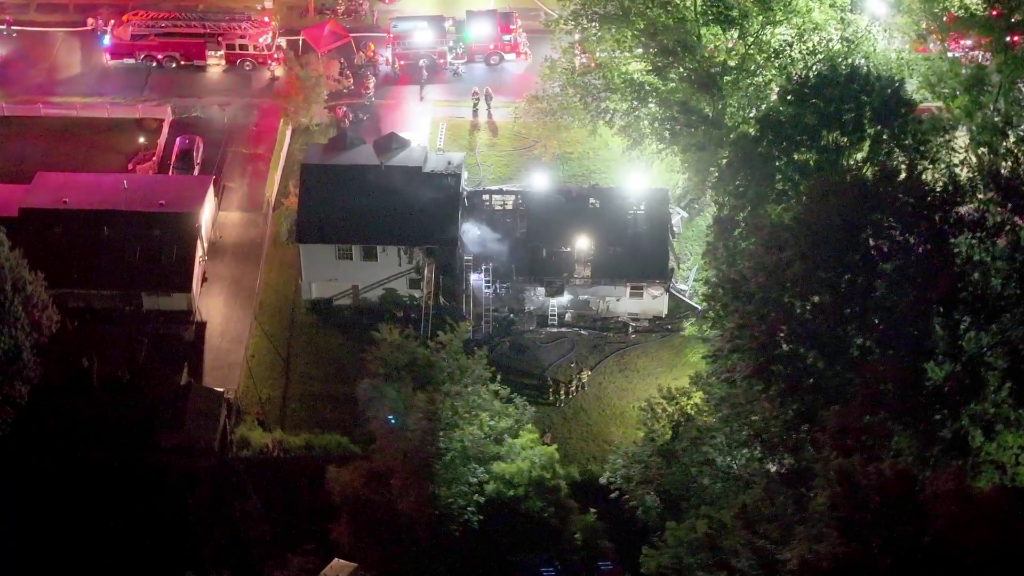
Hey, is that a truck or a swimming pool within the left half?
truck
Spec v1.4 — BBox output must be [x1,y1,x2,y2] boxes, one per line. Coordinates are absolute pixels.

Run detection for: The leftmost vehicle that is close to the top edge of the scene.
[99,5,282,68]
